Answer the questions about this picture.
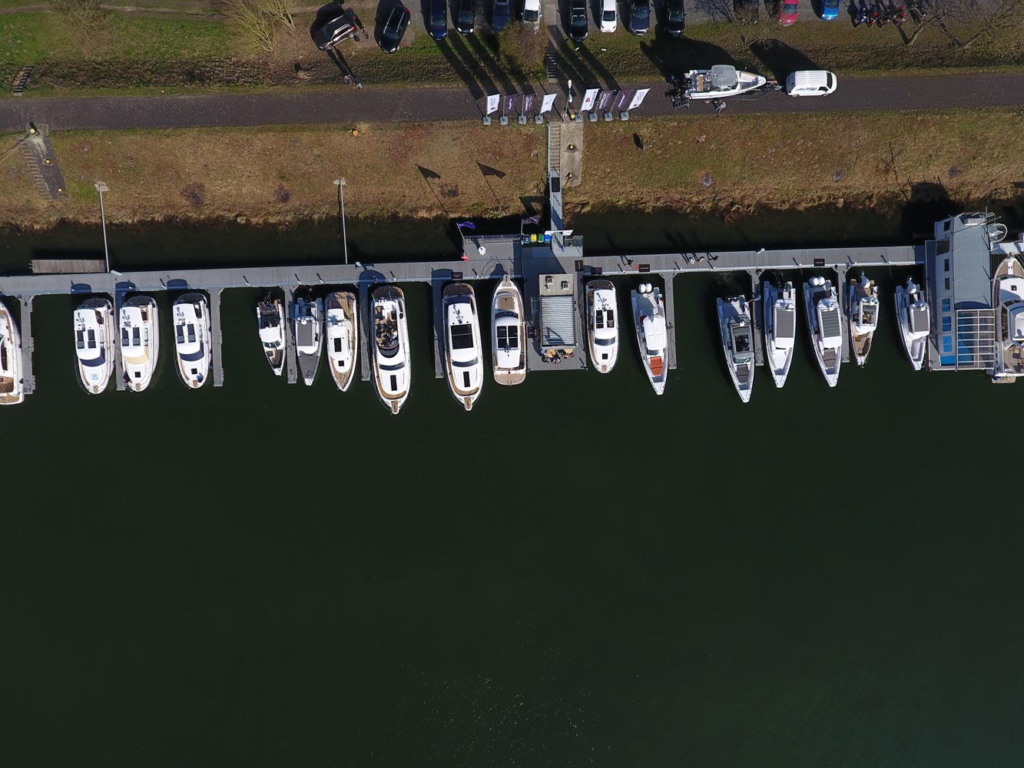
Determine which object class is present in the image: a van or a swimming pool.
van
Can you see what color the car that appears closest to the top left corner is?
black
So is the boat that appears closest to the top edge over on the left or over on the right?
right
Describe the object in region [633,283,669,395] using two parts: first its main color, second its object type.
white boat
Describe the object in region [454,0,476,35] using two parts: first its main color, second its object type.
black car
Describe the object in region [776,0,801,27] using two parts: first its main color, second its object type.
red car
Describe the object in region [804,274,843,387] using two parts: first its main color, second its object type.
gray boat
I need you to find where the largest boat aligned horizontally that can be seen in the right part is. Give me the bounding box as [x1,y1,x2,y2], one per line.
[671,67,766,102]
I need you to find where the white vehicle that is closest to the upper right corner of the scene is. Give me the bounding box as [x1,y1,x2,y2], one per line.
[786,66,838,96]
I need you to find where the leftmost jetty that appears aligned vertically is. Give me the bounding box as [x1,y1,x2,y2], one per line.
[14,297,39,394]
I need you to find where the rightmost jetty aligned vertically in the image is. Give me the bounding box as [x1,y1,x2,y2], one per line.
[831,266,853,363]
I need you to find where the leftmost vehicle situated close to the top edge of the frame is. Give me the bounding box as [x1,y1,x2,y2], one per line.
[317,6,361,52]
